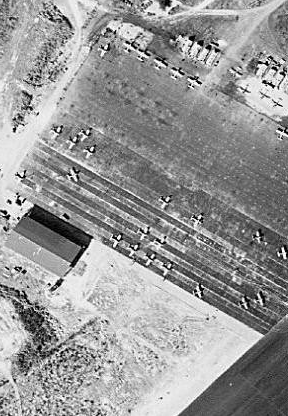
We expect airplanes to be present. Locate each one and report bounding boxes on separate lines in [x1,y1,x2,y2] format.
[145,254,154,264]
[85,146,93,156]
[16,170,25,180]
[99,44,107,54]
[239,88,249,97]
[259,92,269,101]
[139,228,148,238]
[80,129,90,139]
[171,69,183,80]
[161,197,169,207]
[251,230,261,244]
[124,42,136,53]
[252,293,263,305]
[193,213,202,223]
[155,236,164,246]
[68,137,76,147]
[51,126,59,137]
[129,244,137,254]
[188,79,200,89]
[277,130,288,140]
[67,169,78,181]
[276,247,287,260]
[238,297,248,309]
[112,235,121,245]
[137,50,149,61]
[163,263,170,273]
[155,59,166,70]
